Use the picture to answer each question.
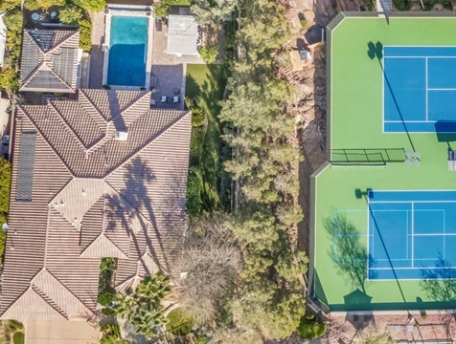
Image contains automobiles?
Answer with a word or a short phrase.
No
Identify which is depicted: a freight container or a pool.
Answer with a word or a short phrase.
pool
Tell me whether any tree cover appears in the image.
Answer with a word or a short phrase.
Yes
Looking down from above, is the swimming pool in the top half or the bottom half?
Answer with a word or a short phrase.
top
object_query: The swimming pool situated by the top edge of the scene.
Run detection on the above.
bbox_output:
[102,1,153,91]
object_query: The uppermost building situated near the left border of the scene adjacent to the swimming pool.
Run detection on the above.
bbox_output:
[18,28,86,93]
